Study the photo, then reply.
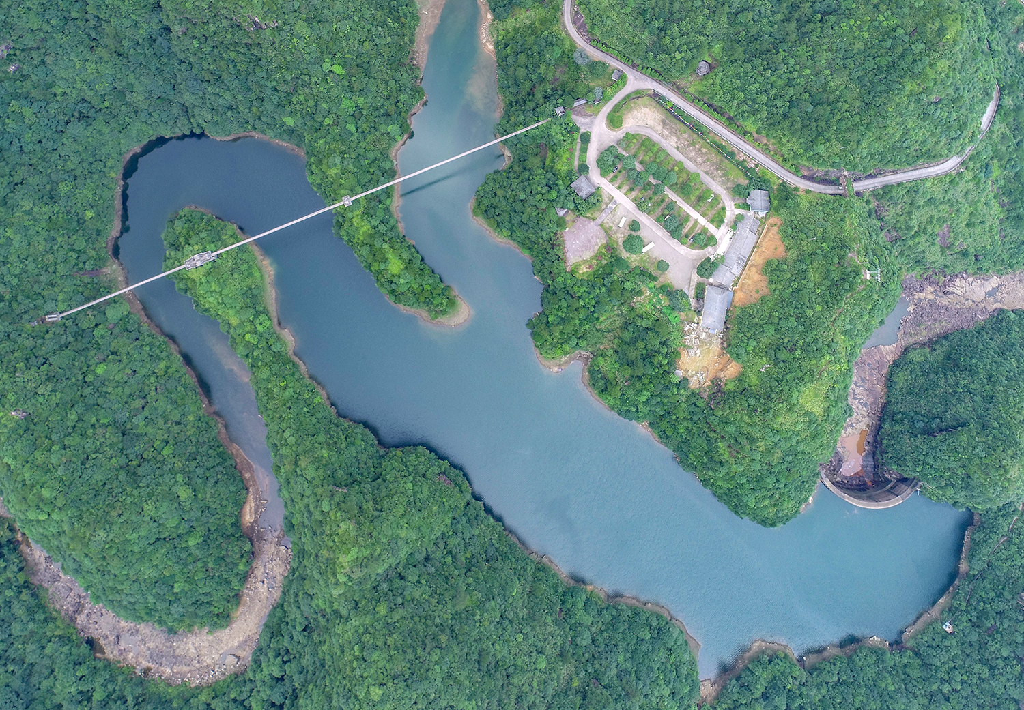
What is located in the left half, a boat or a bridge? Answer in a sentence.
The one visible in the left half is a bridge.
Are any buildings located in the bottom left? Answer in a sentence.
No, there's no building to be seen in the bottom left.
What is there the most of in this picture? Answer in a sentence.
For the most part, this view shows trees.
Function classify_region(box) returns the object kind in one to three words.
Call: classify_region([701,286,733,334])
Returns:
building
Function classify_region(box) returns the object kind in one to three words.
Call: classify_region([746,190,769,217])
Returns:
house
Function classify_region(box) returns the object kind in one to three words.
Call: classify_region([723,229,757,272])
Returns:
building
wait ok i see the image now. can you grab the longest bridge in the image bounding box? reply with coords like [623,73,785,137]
[47,110,555,319]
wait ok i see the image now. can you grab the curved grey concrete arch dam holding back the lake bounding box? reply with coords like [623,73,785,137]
[808,463,920,509]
